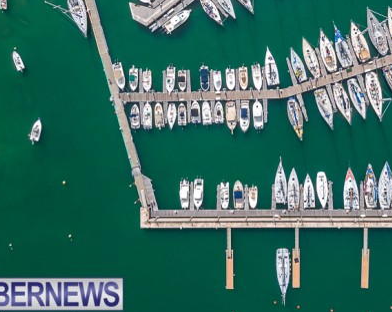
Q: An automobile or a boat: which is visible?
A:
boat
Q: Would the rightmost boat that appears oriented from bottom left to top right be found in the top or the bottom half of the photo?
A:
top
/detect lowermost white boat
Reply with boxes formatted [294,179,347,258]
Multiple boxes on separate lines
[276,247,291,309]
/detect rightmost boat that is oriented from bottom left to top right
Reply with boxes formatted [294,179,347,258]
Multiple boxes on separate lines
[165,8,194,35]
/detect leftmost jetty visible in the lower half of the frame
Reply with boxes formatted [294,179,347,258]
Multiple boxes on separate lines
[132,167,159,210]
